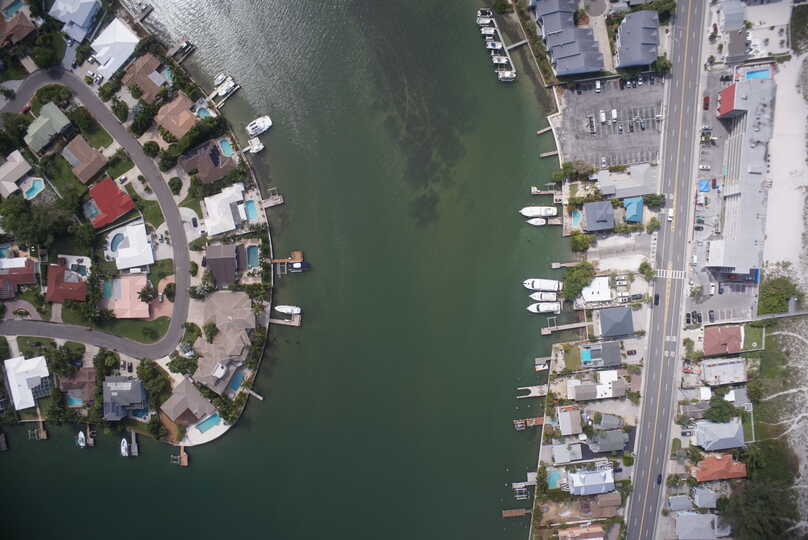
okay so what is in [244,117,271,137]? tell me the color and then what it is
white boat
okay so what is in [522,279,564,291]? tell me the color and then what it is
white boat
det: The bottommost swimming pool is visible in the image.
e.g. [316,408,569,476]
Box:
[548,470,562,490]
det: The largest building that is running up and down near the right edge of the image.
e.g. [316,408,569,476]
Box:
[701,80,779,283]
